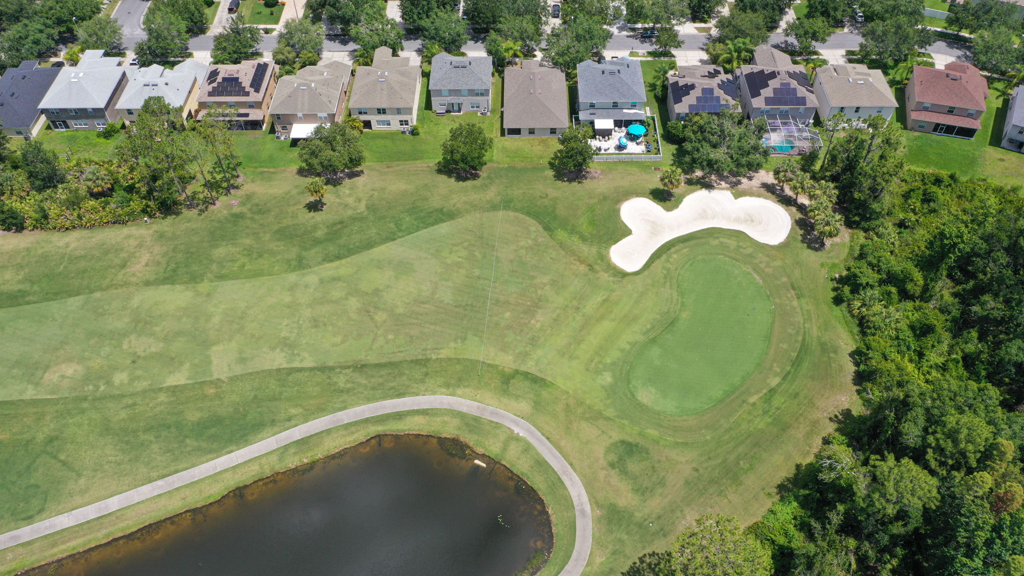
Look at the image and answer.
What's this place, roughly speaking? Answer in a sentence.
This looks like a golf course.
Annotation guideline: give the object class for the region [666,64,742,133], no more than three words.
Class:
house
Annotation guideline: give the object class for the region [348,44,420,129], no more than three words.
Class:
house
